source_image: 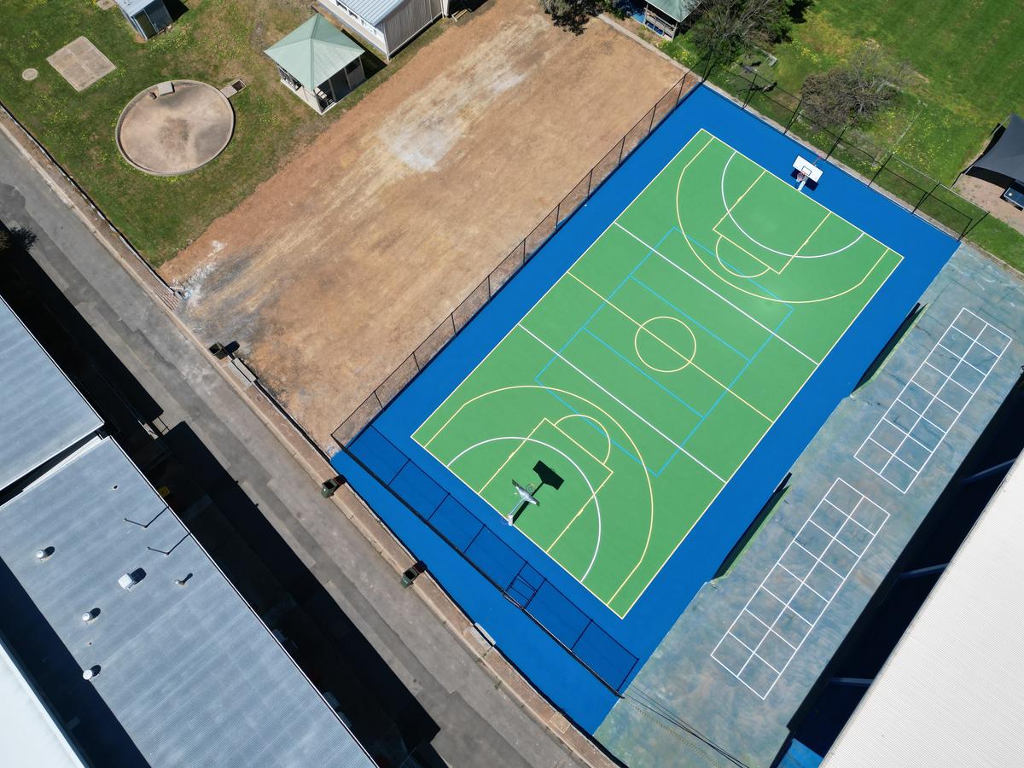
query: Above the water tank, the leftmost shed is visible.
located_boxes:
[102,0,172,41]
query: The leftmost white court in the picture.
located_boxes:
[710,477,891,699]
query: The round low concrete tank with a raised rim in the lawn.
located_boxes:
[116,79,239,181]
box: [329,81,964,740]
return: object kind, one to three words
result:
sports court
